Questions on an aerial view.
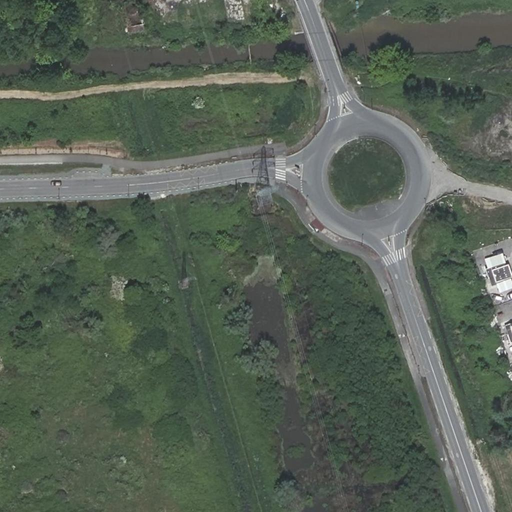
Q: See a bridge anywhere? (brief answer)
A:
Yes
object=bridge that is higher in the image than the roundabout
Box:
[302,20,338,66]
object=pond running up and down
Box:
[246,281,313,472]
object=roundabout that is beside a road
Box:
[302,110,430,244]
